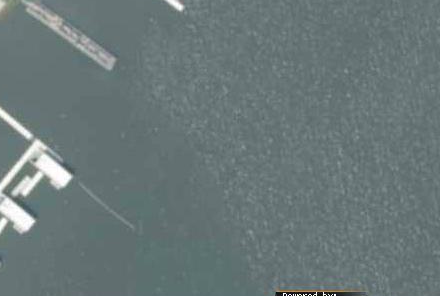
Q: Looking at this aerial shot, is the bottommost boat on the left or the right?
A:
left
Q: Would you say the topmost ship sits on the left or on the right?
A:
left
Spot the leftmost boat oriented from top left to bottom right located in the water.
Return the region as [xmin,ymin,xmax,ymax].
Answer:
[0,193,37,232]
